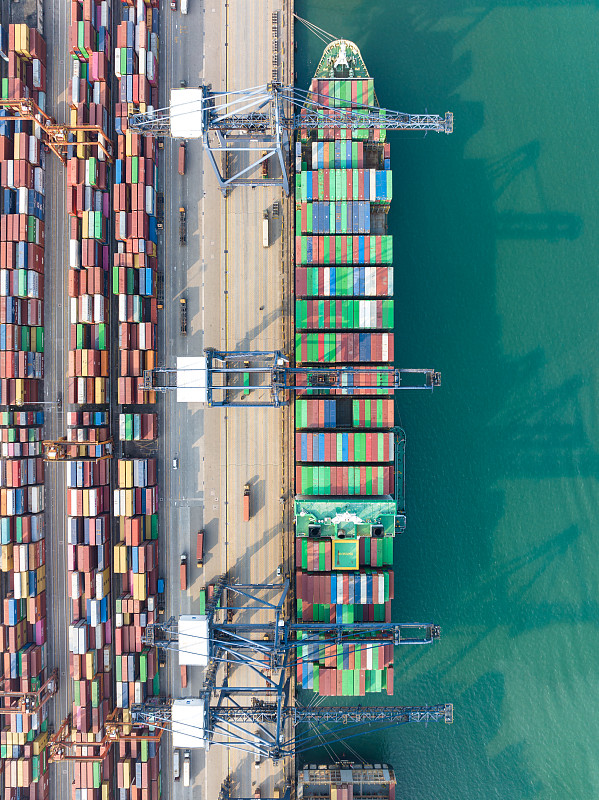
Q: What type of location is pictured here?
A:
port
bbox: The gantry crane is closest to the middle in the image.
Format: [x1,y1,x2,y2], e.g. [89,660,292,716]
[136,345,444,414]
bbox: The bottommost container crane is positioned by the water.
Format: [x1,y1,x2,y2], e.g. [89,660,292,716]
[212,762,291,800]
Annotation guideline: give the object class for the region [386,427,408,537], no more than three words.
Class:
ship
